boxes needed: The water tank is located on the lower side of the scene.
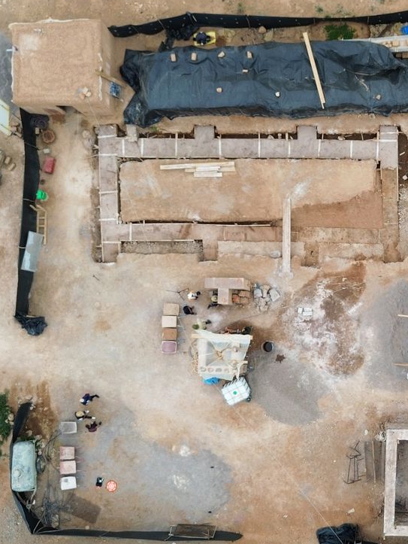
[220,374,253,402]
